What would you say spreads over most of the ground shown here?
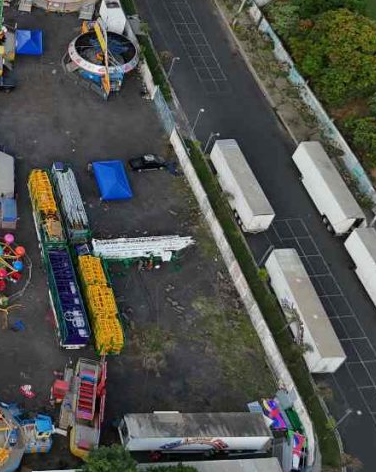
paved ground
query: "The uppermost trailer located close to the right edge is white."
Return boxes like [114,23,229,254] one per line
[292,143,367,242]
